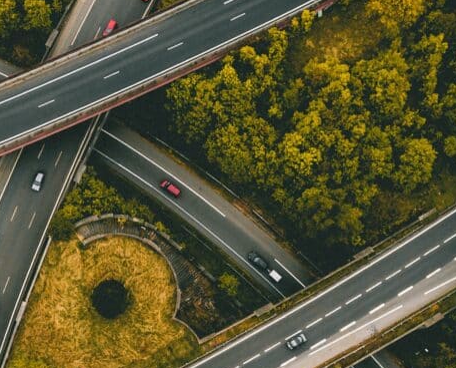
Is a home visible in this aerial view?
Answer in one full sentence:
No, I can see no home in this picture.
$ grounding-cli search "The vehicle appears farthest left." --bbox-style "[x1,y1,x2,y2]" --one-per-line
[30,170,45,194]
